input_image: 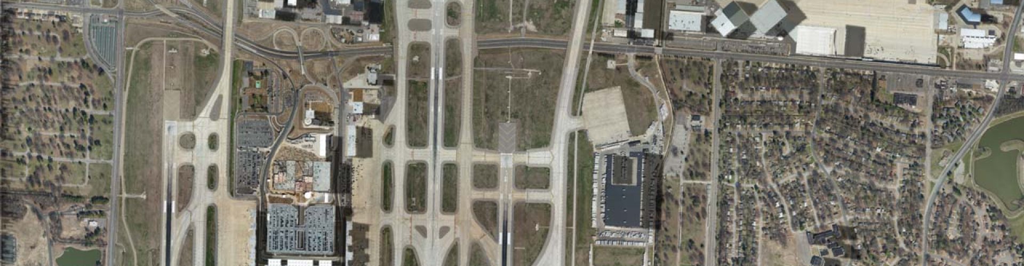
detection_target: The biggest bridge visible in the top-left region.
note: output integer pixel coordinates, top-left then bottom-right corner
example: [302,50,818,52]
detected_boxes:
[222,17,240,53]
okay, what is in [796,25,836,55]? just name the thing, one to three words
building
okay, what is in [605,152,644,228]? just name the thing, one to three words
building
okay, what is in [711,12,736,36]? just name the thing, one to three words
hangar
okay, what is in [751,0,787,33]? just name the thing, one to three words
hangar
